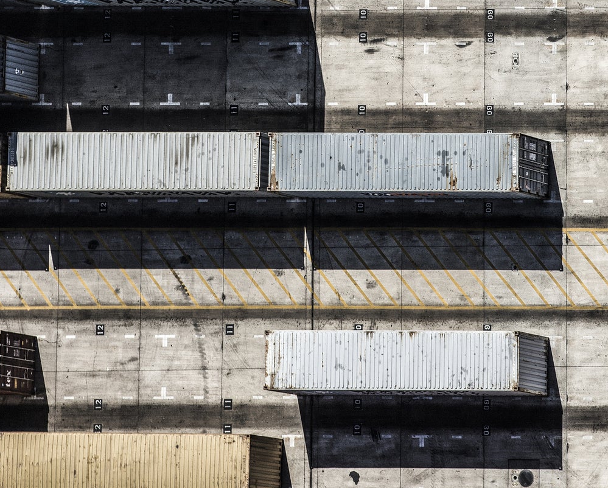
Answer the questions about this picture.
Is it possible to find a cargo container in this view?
Yes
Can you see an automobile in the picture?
No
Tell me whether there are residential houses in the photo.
No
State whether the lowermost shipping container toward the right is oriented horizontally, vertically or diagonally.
horizontally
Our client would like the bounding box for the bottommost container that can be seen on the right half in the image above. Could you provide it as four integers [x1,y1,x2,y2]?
[262,329,548,395]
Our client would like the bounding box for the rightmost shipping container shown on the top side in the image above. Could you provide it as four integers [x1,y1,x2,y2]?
[267,133,548,199]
